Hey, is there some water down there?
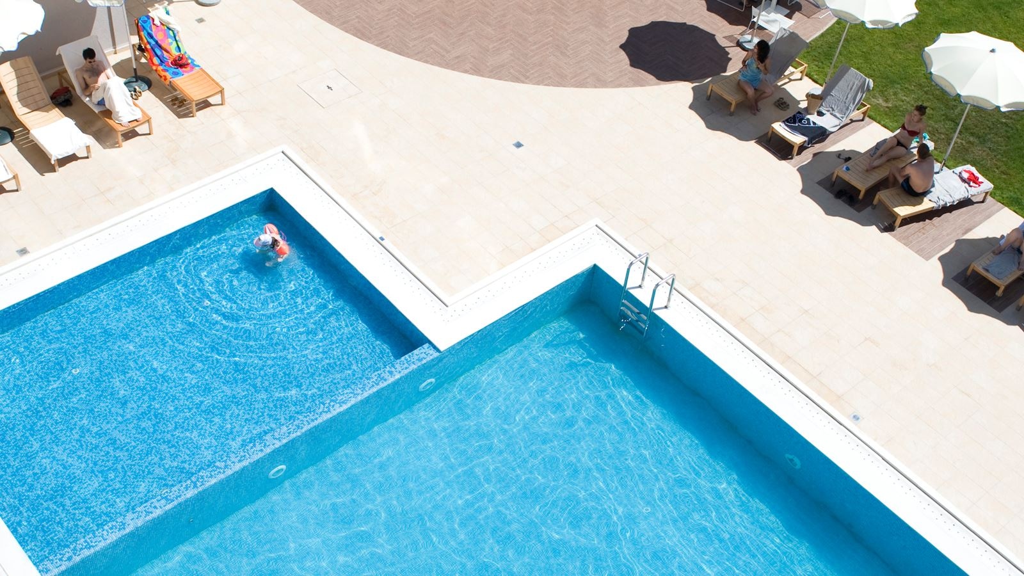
Yes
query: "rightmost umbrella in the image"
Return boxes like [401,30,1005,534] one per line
[914,31,1024,174]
